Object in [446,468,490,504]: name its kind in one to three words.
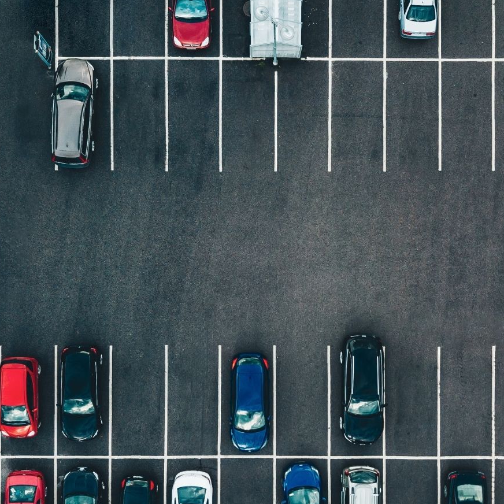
car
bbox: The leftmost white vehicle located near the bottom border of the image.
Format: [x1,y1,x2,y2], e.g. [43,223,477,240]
[172,468,212,504]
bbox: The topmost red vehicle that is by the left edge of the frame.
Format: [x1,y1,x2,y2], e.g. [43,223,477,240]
[0,356,41,439]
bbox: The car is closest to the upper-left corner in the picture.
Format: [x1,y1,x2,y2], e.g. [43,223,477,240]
[46,58,97,169]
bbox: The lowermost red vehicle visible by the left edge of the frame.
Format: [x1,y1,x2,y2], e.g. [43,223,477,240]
[3,467,48,504]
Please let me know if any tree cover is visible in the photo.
No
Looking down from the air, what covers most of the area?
paved ground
